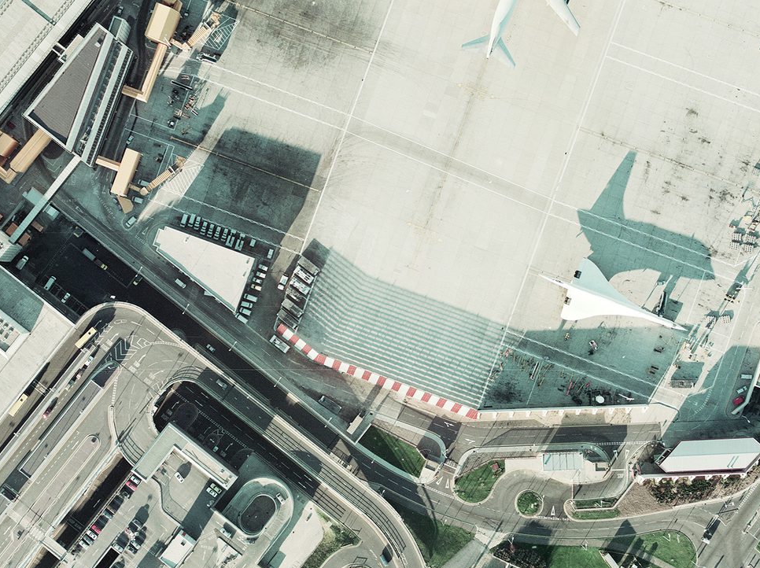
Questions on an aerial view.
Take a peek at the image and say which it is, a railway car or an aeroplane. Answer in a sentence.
The image shows an aeroplane.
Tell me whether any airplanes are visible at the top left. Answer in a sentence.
No, I see no airplane at the top left.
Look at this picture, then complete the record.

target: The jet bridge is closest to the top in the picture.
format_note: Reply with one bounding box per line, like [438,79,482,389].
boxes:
[169,9,220,52]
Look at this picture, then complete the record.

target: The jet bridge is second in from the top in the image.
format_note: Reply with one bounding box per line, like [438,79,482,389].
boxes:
[10,130,54,173]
